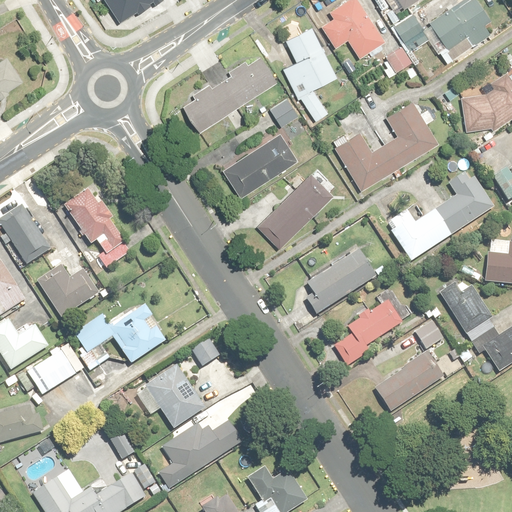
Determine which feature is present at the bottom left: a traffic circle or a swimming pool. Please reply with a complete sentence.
It is a swimming pool that can be seen at the bottom left.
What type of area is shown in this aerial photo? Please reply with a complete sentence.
This looks like a residential area.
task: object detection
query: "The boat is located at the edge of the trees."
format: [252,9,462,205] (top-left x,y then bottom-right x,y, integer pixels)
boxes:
[462,268,480,280]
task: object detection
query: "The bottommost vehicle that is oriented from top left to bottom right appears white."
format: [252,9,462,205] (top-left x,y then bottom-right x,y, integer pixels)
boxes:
[115,460,128,476]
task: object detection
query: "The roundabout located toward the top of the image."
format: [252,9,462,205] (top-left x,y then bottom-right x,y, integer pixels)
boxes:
[88,68,128,108]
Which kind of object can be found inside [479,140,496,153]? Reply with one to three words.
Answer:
vehicle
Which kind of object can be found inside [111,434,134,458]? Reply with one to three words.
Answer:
shed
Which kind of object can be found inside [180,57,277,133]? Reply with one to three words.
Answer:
house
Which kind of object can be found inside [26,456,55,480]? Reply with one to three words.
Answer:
swimming pool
